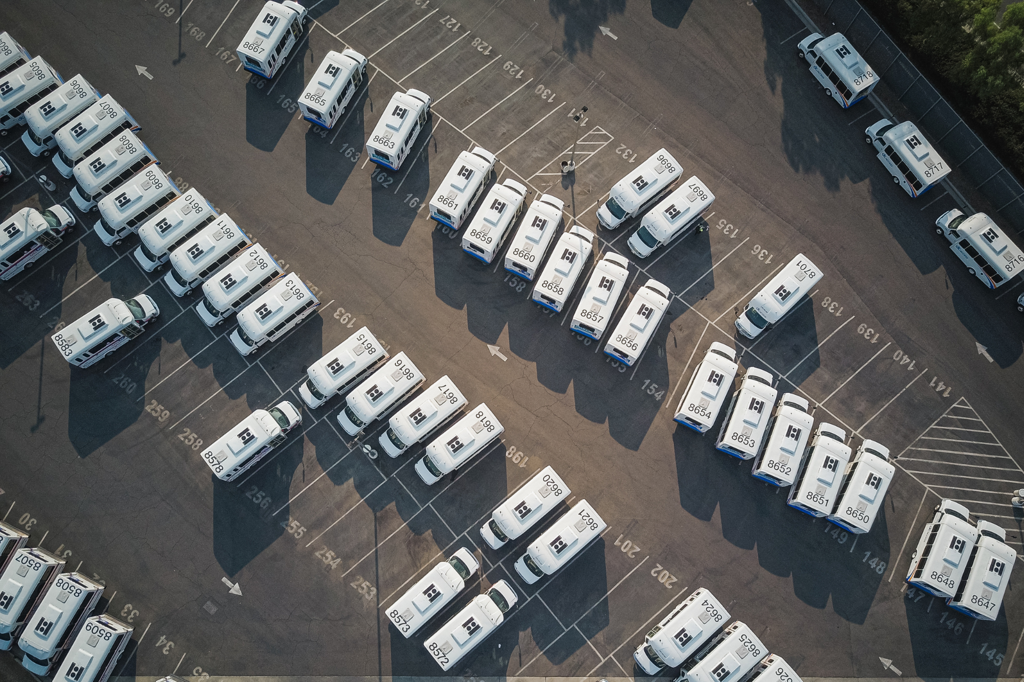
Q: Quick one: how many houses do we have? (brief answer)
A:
zero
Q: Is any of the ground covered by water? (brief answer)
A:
No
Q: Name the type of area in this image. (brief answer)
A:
parking lot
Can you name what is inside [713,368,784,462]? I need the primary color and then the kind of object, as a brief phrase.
white vehicle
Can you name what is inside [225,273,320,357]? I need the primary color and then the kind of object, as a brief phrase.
white vehicle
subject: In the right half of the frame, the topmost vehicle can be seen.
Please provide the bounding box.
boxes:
[797,25,880,112]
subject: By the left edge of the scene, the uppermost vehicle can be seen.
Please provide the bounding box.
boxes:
[0,31,31,78]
